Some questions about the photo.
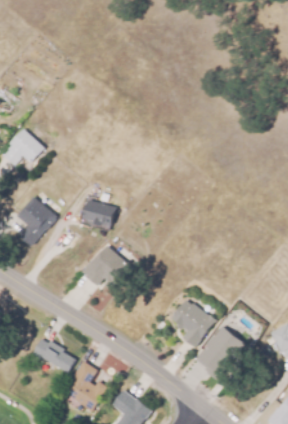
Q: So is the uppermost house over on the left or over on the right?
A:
left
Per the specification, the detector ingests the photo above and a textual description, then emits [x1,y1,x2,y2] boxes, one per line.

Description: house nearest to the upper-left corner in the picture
[2,129,44,166]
